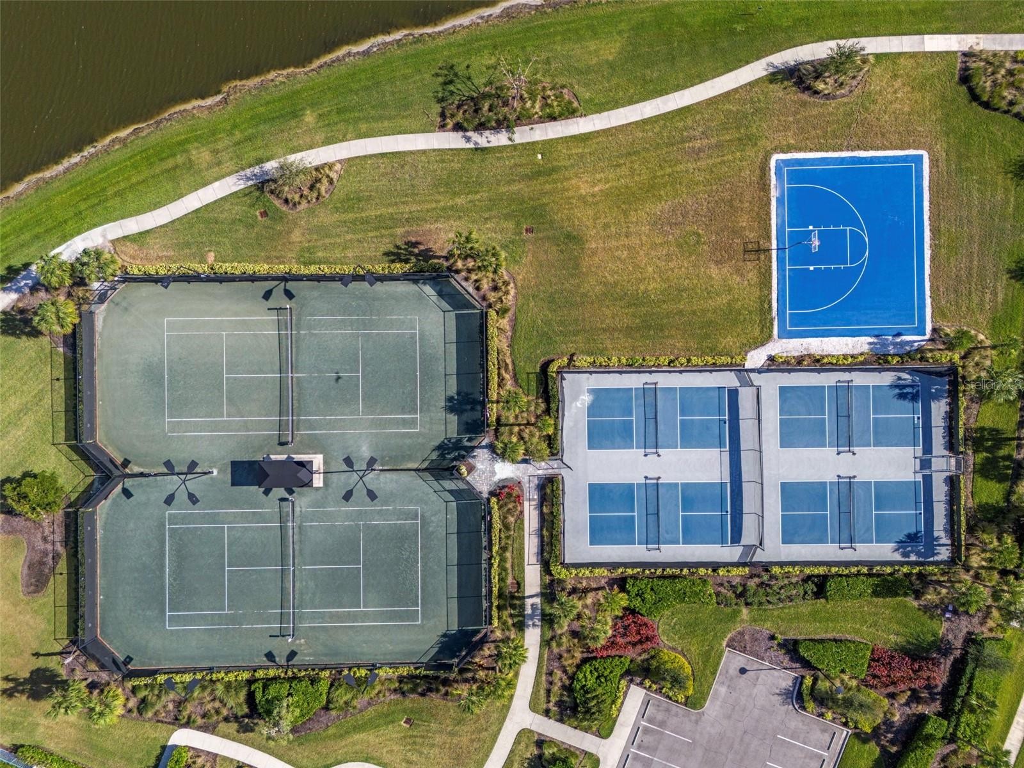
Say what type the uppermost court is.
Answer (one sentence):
The uppermost court appears to be a basketball court.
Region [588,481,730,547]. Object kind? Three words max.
sports court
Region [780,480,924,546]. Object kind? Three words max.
sports court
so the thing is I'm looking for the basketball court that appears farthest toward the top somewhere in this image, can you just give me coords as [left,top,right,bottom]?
[776,154,926,338]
